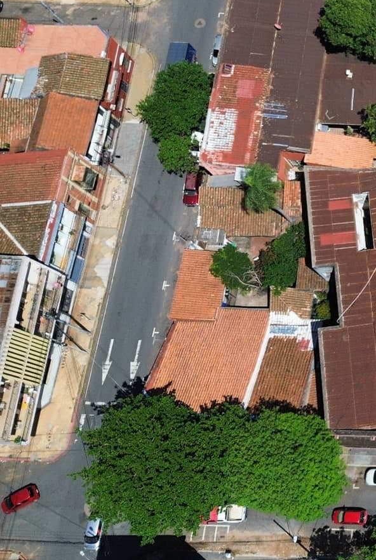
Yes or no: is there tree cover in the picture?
Yes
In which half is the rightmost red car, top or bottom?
bottom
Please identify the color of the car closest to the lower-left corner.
red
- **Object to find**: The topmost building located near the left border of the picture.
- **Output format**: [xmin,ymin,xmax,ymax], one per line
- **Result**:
[0,17,130,113]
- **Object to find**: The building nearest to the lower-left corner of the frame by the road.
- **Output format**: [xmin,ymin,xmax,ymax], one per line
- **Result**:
[0,256,80,433]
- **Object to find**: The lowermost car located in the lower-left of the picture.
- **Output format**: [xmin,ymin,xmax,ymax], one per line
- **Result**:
[79,514,108,554]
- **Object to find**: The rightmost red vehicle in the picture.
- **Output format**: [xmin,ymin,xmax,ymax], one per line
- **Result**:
[331,506,368,528]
